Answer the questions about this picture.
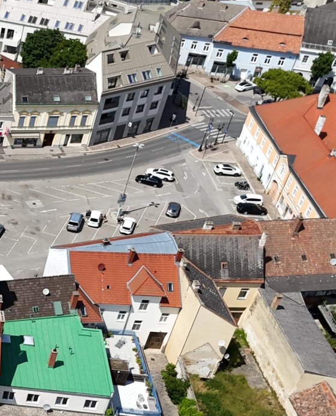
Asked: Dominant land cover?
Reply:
buildings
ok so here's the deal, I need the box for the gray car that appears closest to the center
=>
[167,206,182,219]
